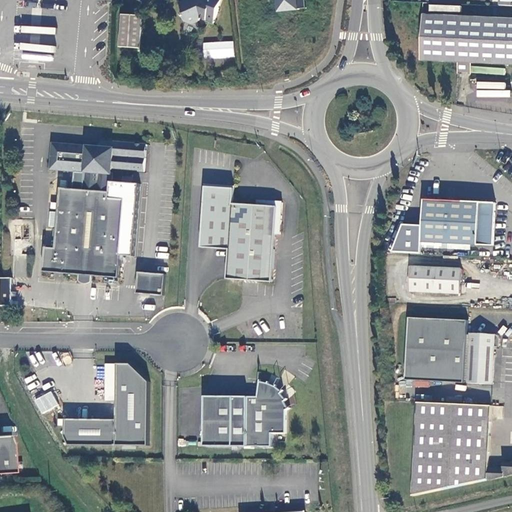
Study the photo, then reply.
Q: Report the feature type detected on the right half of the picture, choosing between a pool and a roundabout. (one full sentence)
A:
The feature located on the right half of the picture is a roundabout.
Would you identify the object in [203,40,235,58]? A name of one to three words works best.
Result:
shed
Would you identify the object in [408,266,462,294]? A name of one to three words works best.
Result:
shed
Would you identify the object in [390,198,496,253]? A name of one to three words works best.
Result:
building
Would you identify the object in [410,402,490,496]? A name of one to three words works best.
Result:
building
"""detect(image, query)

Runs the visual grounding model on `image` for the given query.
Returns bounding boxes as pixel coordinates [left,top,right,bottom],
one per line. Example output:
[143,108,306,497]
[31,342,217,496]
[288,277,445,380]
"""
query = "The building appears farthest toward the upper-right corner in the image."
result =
[418,13,512,74]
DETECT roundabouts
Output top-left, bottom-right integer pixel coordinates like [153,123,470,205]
[304,64,418,178]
